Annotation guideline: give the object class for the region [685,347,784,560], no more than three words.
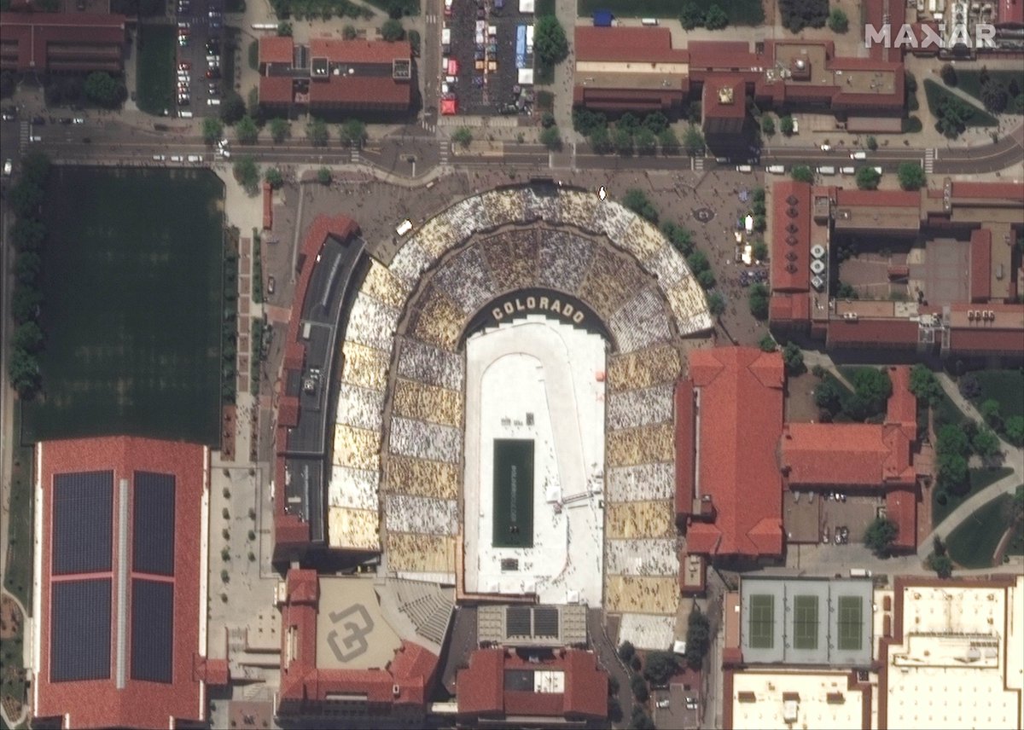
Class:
building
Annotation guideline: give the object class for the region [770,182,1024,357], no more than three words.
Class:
building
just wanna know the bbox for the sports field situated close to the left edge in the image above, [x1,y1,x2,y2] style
[21,167,224,447]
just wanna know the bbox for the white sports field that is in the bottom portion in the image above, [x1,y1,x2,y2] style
[457,290,617,609]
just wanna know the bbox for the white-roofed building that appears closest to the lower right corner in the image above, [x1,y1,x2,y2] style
[722,575,1024,730]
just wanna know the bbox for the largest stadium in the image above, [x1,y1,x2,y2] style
[319,181,715,653]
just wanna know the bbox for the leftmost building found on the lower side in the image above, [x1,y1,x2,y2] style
[23,437,228,730]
